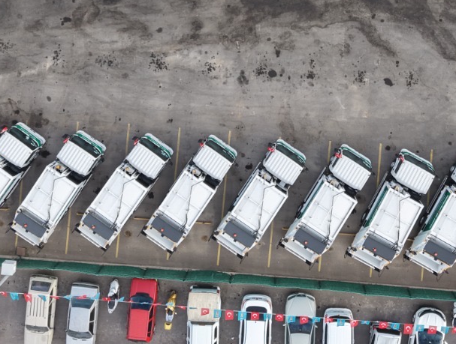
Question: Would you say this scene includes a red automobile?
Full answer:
Yes, the picture does show a red automobile.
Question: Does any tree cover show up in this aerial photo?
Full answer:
No, there is no tree cover in the image.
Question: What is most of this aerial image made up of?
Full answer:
For the most part, this view shows paved ground.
